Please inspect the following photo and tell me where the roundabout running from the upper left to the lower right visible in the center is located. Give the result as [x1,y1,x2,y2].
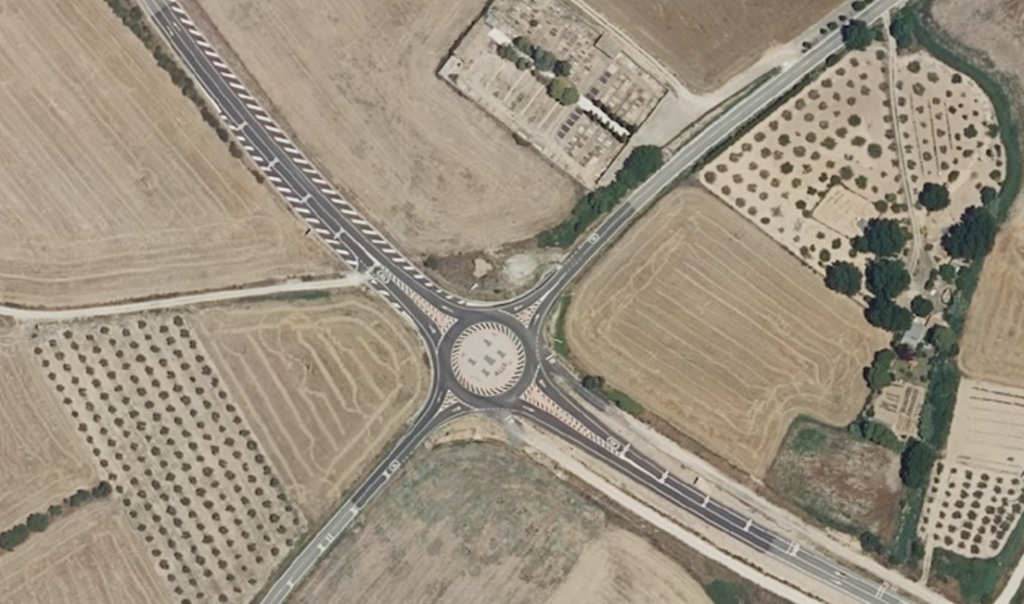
[383,267,619,455]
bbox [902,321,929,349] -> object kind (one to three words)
house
